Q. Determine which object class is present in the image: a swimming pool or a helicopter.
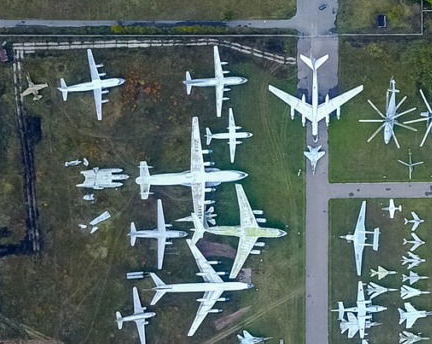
helicopter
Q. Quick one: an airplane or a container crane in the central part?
airplane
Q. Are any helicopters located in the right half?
Yes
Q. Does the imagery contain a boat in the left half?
No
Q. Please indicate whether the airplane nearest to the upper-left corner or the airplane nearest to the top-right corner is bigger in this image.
the airplane nearest to the top-right corner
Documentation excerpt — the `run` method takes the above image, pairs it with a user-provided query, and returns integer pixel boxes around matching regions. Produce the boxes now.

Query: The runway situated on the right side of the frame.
[297,0,338,344]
